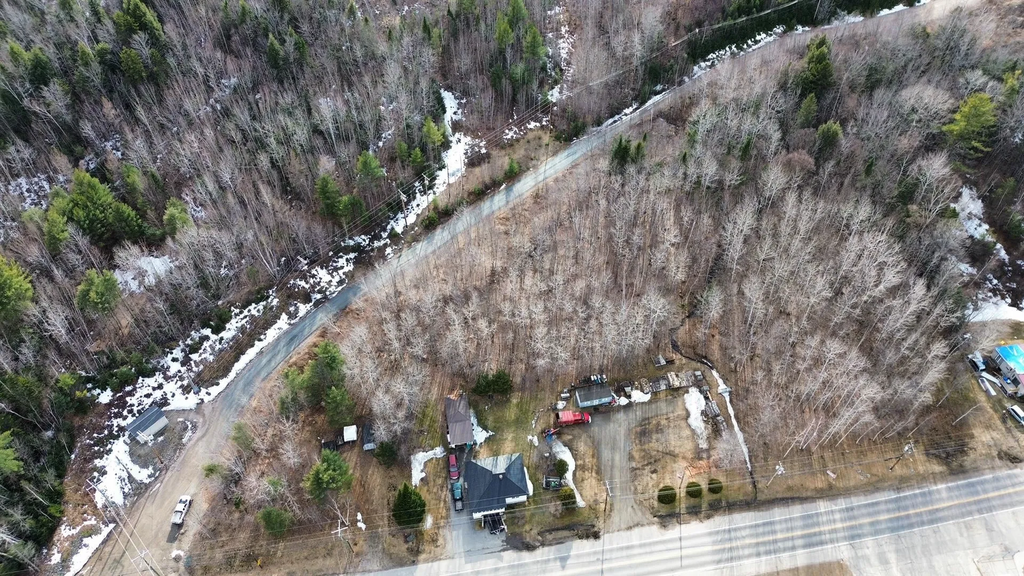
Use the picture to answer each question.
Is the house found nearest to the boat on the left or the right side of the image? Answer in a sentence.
It is on the right.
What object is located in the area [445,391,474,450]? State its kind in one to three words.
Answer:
building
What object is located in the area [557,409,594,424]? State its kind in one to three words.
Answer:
vehicle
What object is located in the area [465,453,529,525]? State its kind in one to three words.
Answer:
house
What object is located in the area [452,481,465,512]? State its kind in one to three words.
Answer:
vehicle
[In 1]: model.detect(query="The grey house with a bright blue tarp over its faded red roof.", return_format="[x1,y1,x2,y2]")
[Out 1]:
[991,341,1024,403]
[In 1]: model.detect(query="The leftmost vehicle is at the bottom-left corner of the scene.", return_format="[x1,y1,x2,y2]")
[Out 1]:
[167,495,190,526]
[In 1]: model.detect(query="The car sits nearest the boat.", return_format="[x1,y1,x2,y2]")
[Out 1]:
[967,354,989,372]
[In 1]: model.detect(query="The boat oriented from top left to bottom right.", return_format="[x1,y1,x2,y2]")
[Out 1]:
[980,378,997,394]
